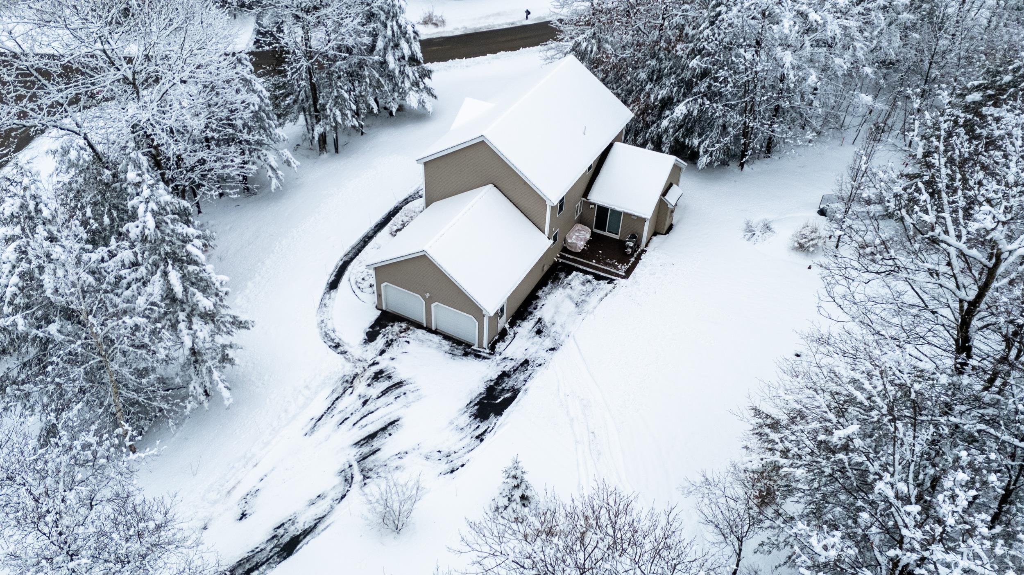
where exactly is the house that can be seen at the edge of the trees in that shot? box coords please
[365,57,687,353]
